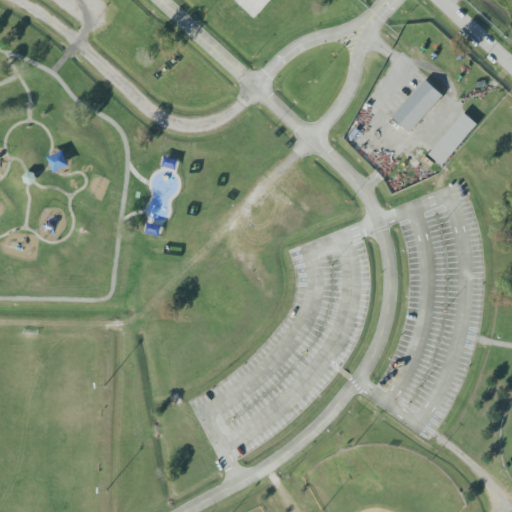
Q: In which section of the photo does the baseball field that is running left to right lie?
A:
bottom right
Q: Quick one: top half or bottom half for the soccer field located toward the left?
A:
bottom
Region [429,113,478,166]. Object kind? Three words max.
shed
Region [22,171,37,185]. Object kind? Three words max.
gazebo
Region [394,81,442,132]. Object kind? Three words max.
building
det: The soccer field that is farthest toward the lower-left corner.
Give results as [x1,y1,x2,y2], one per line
[0,330,104,512]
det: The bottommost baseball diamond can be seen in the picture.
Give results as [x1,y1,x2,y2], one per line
[306,448,466,512]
